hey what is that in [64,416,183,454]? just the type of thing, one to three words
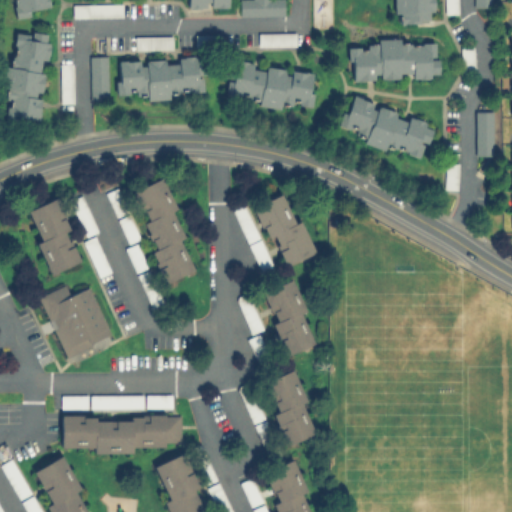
building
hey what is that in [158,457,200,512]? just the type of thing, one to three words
building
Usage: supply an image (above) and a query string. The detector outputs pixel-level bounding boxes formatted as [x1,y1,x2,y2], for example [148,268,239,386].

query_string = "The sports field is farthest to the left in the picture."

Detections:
[346,271,464,512]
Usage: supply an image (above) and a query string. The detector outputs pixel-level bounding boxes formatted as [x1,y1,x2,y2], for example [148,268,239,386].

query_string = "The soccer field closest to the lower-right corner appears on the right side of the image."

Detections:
[468,366,512,512]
